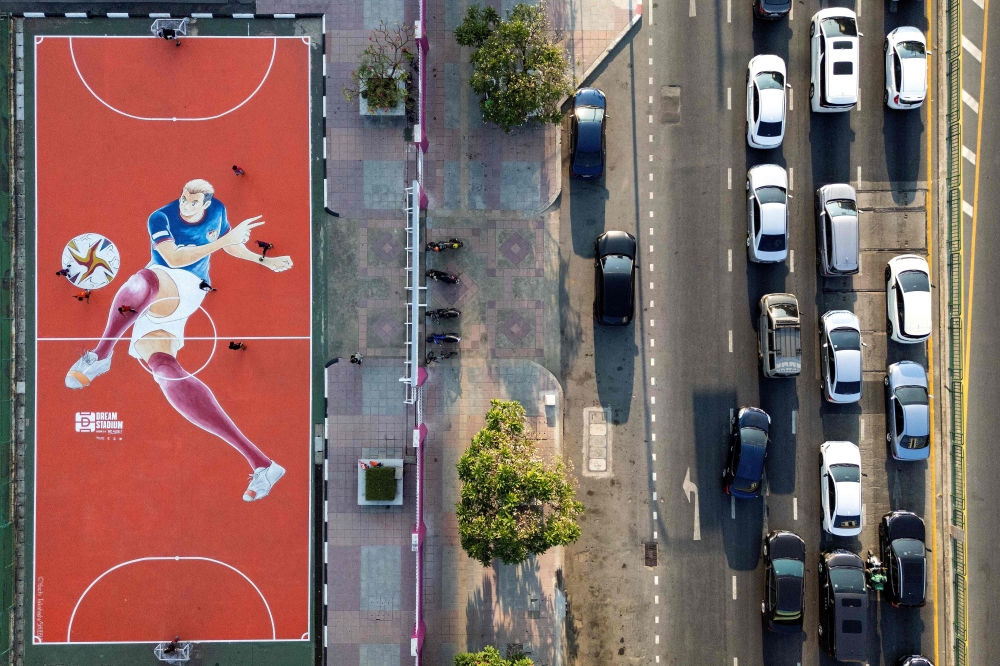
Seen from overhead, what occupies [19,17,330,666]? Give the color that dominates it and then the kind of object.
red sports court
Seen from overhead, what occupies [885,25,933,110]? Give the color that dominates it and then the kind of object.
white car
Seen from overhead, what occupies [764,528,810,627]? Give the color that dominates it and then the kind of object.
black car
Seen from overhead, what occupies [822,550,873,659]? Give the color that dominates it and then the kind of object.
black vehicle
